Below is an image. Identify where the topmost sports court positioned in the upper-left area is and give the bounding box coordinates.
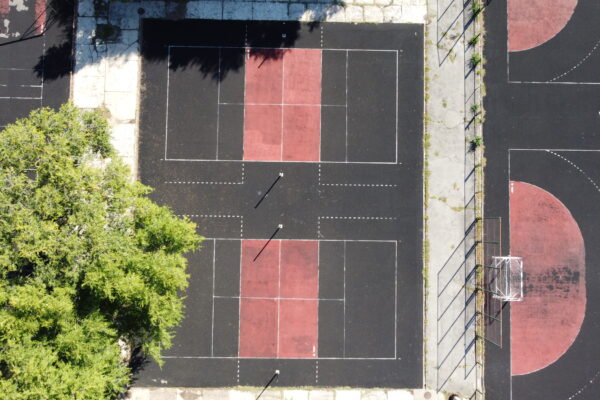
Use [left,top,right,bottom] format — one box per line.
[0,0,46,98]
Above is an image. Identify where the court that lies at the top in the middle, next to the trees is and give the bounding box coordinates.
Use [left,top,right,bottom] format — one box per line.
[162,26,401,186]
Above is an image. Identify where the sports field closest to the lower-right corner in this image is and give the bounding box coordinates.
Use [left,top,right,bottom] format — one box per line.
[509,150,600,400]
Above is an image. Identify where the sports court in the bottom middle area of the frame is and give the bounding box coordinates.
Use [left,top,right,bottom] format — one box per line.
[155,215,401,381]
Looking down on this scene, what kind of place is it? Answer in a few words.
sports ground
